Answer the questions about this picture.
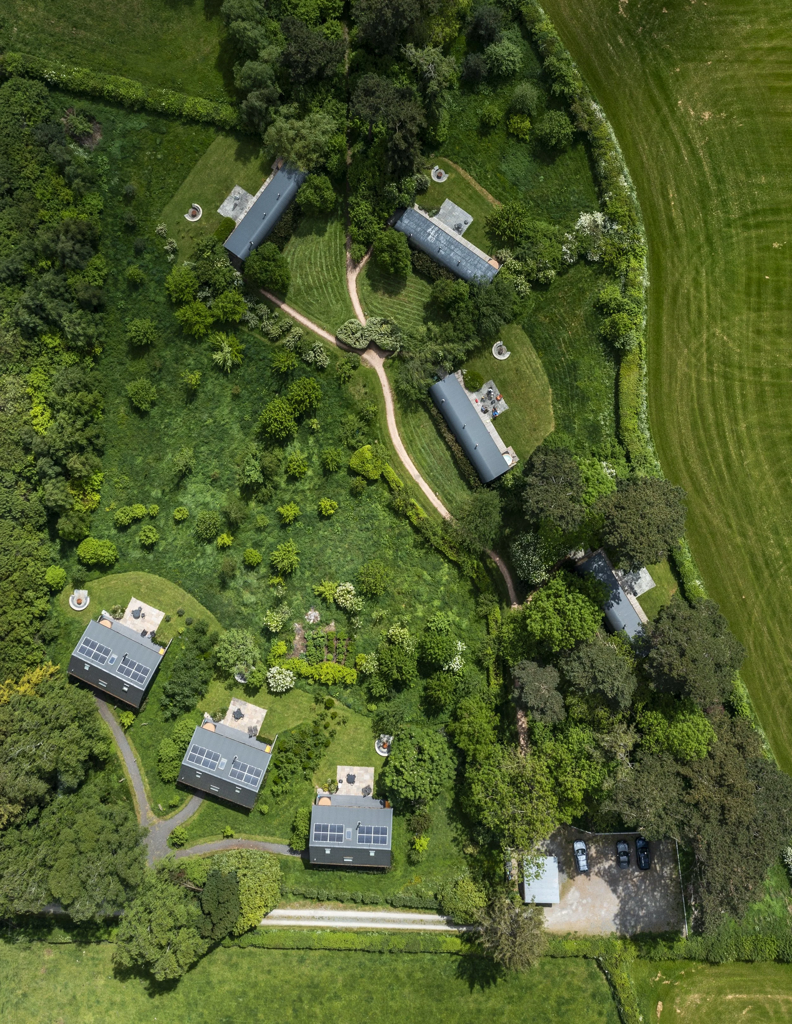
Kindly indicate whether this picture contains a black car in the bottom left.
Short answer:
No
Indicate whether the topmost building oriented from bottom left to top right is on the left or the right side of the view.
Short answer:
left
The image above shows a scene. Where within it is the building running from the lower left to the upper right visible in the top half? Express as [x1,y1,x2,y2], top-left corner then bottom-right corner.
[217,154,309,269]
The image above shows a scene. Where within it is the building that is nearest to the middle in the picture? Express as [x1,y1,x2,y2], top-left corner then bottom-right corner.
[429,369,521,484]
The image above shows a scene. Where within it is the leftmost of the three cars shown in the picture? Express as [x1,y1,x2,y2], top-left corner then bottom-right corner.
[573,838,589,874]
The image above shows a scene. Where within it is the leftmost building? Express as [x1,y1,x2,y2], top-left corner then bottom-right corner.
[65,614,175,708]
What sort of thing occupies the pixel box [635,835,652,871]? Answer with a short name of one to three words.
car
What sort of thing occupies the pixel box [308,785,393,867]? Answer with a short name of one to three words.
house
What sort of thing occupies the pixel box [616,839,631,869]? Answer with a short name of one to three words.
car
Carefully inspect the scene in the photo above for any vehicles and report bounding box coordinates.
[573,838,589,874]
[635,835,652,871]
[616,839,631,869]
